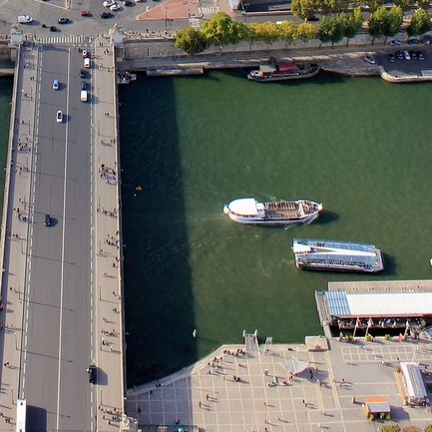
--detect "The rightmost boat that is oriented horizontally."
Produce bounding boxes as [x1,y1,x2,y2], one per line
[292,241,386,275]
